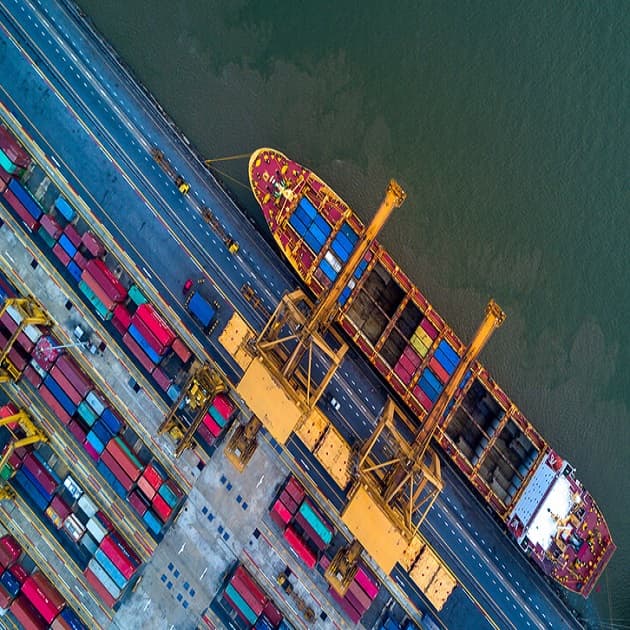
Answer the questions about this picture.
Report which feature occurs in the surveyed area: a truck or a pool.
truck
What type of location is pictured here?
port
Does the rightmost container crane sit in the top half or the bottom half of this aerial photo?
bottom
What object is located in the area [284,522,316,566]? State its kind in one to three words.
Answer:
shipping container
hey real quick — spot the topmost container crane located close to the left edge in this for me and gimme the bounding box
[0,294,54,389]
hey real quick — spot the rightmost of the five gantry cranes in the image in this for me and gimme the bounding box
[321,303,507,597]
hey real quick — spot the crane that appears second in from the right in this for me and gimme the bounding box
[221,181,406,476]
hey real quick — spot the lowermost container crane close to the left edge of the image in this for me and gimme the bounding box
[0,407,46,474]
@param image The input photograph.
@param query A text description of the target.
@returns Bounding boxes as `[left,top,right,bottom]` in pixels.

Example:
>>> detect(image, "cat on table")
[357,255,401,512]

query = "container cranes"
[0,407,46,474]
[0,294,54,389]
[321,303,507,597]
[154,358,233,461]
[221,181,406,476]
